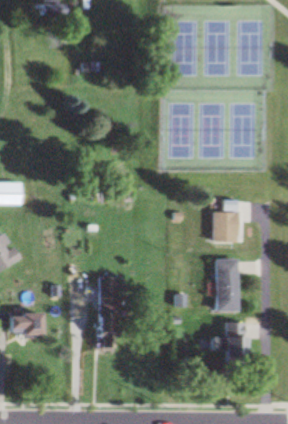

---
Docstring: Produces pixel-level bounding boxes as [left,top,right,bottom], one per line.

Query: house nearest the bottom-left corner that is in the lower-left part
[10,311,48,335]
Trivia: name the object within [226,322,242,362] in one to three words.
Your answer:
house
